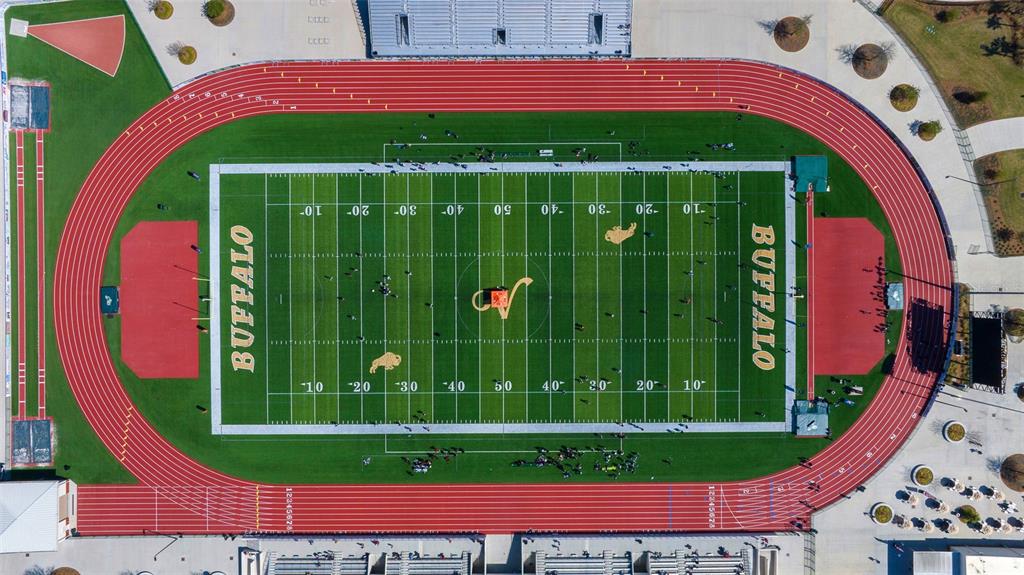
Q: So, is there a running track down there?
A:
Yes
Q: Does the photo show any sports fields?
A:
Yes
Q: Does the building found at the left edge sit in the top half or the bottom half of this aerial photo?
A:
bottom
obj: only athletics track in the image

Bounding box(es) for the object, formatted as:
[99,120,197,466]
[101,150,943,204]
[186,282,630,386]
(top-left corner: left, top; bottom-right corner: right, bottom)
[54,60,954,538]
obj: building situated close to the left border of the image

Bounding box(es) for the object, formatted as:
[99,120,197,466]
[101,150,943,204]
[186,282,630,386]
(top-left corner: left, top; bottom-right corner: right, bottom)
[0,481,78,554]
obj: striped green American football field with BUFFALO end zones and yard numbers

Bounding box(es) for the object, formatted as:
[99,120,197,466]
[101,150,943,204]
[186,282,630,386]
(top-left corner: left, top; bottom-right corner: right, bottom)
[209,124,796,470]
